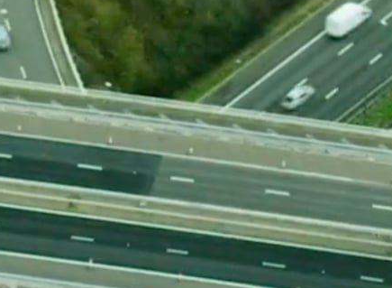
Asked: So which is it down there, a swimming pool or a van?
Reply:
van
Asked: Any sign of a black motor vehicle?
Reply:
No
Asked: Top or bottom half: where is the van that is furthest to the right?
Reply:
top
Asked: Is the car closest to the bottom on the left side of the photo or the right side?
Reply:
right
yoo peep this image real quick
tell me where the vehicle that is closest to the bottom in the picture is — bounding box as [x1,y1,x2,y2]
[280,85,314,110]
